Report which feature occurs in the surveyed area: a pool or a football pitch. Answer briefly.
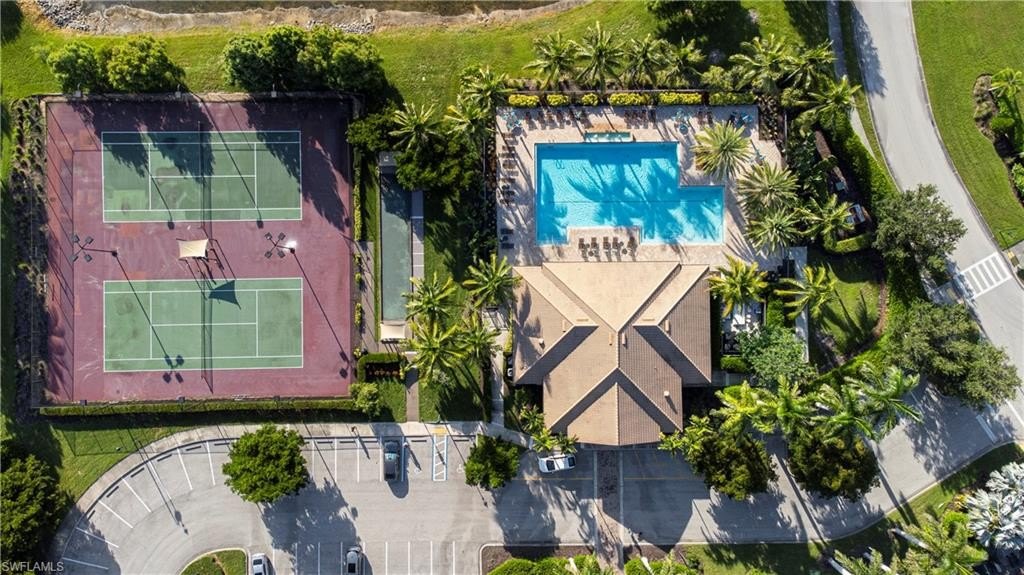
pool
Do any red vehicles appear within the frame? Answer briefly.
No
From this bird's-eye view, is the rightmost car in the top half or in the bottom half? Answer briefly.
bottom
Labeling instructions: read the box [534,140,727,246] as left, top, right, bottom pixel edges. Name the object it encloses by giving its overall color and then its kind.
blue swimming pool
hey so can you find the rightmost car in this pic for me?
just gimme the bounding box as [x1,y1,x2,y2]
[537,454,576,475]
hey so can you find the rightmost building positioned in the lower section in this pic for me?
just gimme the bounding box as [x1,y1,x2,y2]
[513,261,712,447]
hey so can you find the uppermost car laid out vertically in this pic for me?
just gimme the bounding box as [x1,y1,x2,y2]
[382,439,401,480]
